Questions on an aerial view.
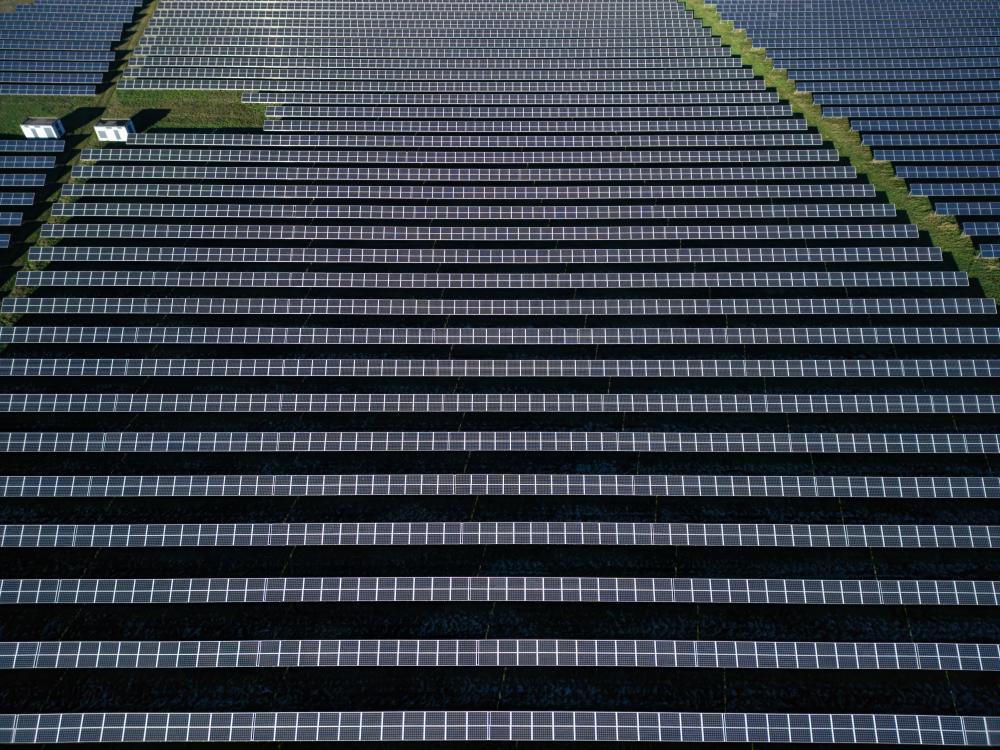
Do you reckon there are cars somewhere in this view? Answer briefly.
No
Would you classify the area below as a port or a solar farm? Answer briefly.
solar farm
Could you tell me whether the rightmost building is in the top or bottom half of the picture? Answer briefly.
top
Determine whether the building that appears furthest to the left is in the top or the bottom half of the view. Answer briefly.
top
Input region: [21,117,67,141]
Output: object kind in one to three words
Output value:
building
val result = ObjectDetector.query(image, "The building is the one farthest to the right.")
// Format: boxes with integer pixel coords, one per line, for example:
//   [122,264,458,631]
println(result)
[95,118,138,142]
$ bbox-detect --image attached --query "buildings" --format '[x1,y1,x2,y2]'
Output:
[95,118,138,142]
[21,117,67,141]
